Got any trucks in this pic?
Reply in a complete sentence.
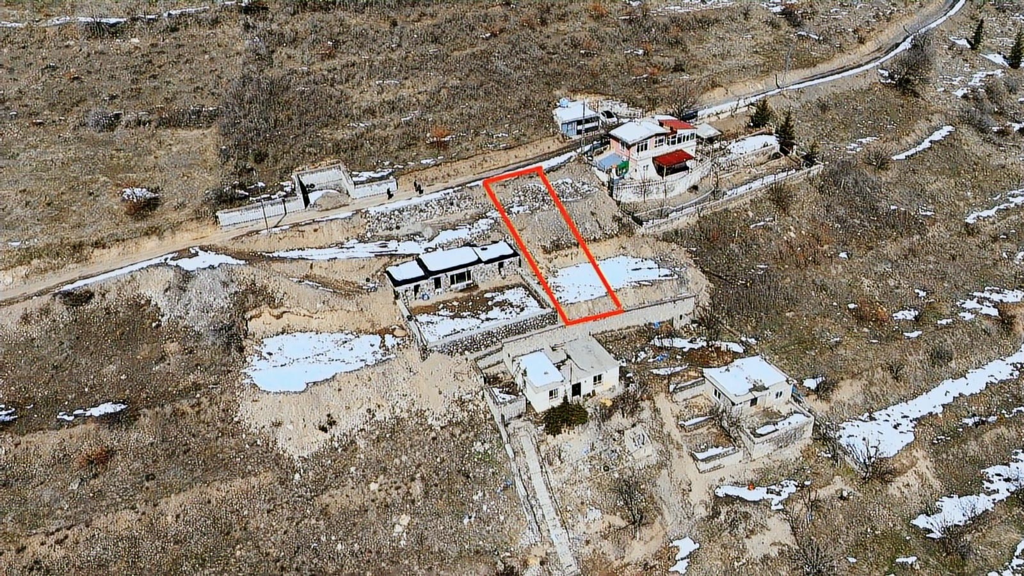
No, there appears to be no truck in this shot.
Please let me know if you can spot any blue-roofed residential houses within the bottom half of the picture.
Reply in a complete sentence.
No, I see no blue-roofed residential house within the bottom half of the picture.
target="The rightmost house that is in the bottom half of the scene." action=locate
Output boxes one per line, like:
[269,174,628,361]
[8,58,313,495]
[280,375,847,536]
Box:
[702,354,794,418]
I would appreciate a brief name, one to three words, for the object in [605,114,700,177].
house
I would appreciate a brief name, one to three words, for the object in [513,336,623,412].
house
